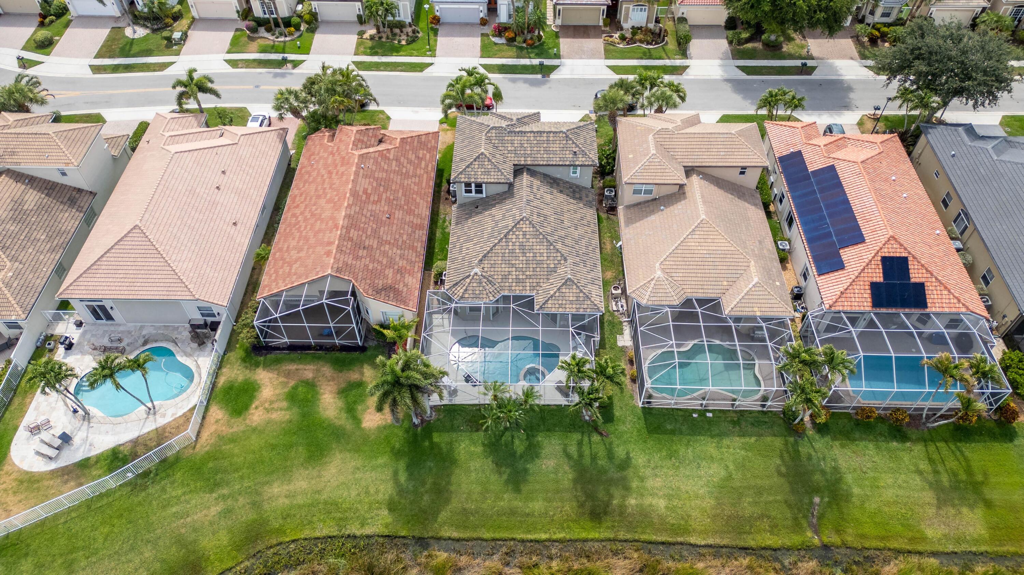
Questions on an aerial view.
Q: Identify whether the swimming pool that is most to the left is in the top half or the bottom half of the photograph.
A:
bottom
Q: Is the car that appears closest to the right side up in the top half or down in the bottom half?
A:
top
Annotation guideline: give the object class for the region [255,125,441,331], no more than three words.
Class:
house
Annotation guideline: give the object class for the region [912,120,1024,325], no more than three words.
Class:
house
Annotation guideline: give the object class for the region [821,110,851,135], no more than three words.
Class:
car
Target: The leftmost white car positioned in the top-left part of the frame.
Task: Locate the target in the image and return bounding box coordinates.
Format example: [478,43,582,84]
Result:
[242,106,271,126]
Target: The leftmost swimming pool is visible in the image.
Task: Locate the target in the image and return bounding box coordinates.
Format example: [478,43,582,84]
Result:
[70,343,198,421]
